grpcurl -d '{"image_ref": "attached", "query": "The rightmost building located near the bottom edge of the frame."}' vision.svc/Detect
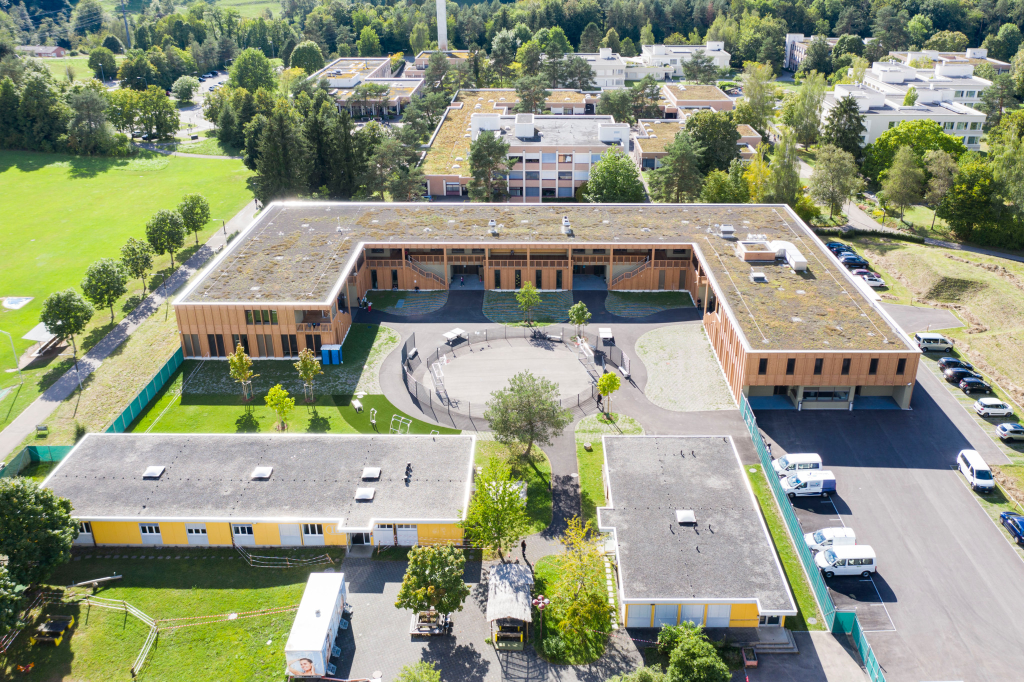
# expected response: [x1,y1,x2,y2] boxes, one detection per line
[599,436,811,656]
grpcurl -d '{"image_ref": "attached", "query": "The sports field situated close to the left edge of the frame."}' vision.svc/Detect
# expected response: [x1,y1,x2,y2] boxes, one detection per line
[0,150,256,400]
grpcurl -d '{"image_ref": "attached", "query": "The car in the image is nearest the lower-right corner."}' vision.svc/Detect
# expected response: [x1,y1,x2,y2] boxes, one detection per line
[994,506,1024,541]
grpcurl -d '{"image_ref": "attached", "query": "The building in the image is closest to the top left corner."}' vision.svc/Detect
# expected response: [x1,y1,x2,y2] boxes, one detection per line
[10,49,74,65]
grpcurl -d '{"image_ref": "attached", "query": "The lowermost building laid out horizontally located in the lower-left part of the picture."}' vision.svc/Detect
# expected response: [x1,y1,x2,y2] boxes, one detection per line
[32,434,475,572]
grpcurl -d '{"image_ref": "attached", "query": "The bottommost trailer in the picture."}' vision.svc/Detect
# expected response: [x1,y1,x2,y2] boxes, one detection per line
[284,571,354,681]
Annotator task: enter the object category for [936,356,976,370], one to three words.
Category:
car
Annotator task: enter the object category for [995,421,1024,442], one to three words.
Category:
car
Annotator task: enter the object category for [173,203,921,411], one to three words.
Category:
building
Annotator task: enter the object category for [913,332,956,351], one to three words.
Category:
vehicle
